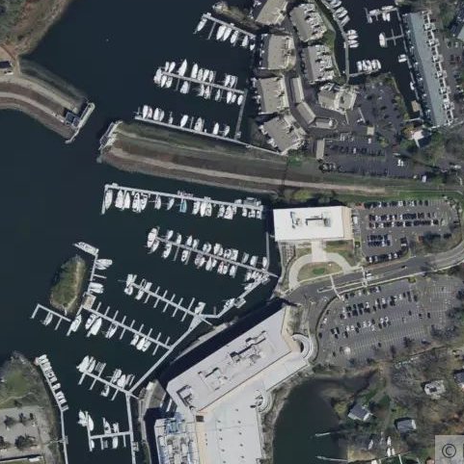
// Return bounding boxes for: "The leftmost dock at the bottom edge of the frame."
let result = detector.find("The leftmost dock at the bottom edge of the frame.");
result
[40,366,68,464]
